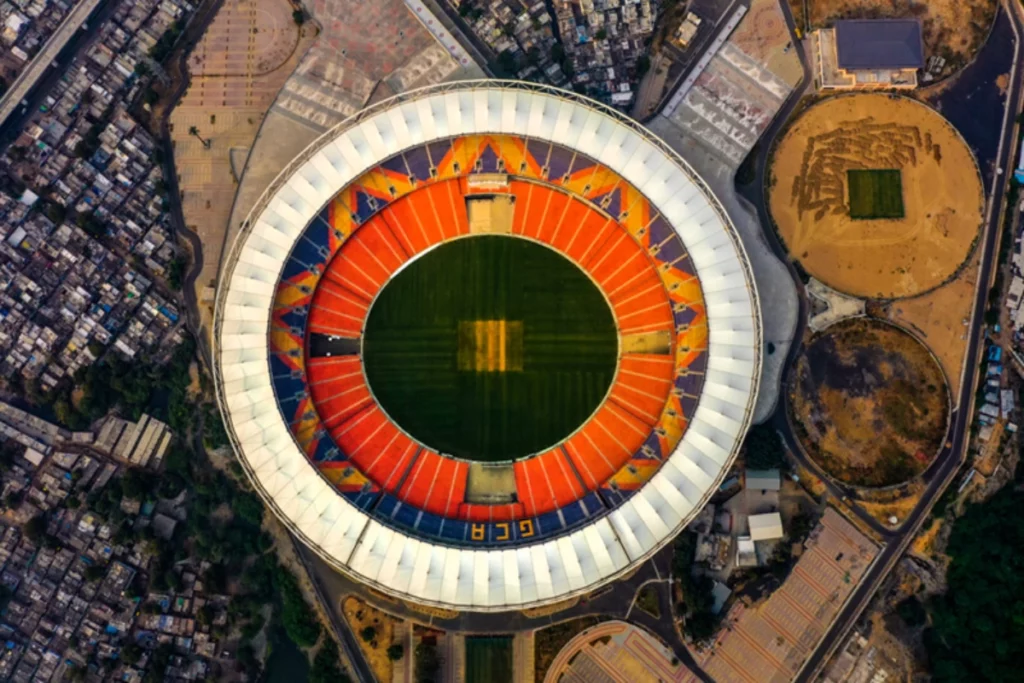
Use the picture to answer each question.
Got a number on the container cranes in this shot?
none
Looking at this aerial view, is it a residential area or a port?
residential area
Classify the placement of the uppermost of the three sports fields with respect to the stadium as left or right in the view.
on its right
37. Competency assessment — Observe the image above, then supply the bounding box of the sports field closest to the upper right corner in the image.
[770,94,983,297]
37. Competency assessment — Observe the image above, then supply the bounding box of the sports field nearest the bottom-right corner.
[789,317,950,488]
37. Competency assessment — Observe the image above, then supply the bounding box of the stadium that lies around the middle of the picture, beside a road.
[212,79,763,612]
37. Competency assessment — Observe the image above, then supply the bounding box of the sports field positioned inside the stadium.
[363,237,618,461]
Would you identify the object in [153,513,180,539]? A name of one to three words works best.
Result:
barn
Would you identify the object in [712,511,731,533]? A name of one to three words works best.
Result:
building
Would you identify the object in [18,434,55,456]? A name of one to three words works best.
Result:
house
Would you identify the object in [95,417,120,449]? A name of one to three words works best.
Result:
shed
